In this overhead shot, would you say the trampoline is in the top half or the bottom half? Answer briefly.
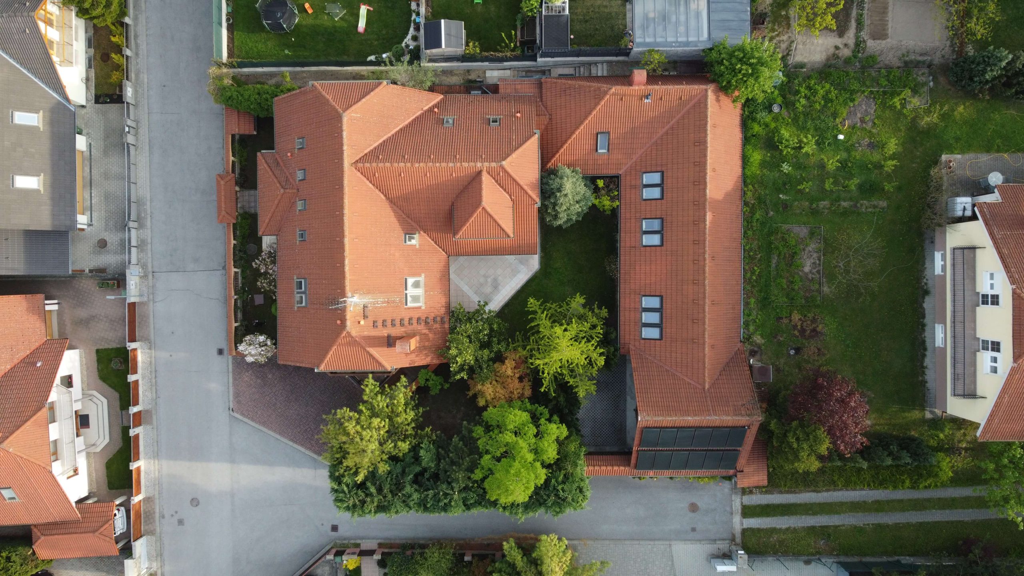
top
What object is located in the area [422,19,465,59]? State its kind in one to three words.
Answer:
shed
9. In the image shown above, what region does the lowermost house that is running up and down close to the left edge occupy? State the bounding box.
[0,288,108,527]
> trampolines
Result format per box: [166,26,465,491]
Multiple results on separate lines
[252,0,303,36]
